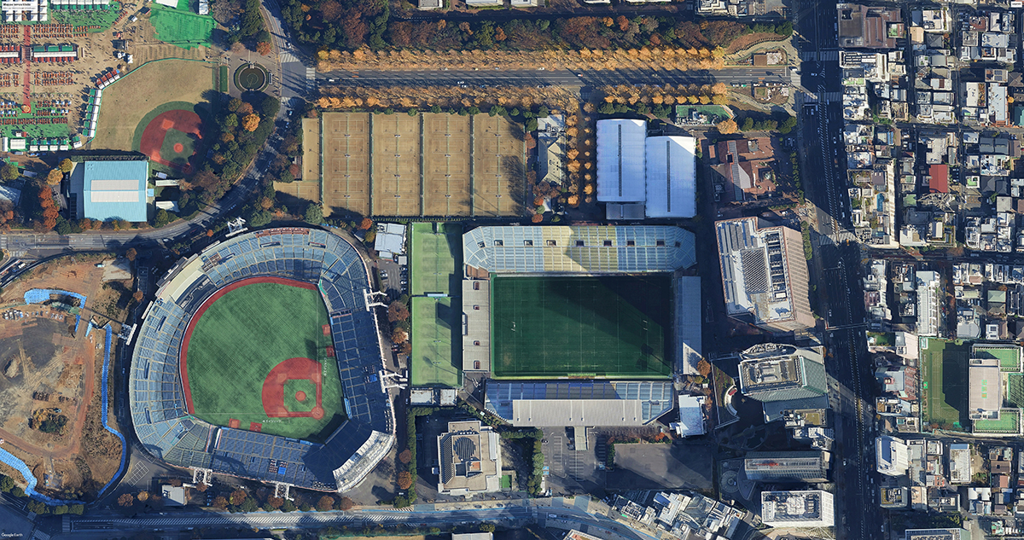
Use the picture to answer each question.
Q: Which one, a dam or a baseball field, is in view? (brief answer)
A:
baseball field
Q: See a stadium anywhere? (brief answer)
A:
Yes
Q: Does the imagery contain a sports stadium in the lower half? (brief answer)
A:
Yes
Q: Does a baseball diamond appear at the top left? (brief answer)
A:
Yes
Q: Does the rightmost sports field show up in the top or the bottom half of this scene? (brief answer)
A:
bottom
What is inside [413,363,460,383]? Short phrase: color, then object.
green tennis court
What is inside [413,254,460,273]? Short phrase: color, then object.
green tennis court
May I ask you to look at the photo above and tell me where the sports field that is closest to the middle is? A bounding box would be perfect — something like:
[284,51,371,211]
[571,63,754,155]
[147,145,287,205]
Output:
[491,273,672,380]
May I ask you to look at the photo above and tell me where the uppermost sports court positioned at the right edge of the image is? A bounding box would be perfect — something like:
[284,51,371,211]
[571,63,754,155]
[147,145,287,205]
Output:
[973,345,1024,374]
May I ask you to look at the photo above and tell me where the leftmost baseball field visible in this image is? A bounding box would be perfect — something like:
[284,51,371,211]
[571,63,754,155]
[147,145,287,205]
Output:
[90,60,218,177]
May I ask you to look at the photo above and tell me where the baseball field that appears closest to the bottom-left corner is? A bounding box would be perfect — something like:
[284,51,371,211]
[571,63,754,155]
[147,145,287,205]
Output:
[181,277,349,441]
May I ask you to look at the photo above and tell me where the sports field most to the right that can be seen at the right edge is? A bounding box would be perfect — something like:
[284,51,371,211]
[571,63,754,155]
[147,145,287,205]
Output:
[921,338,973,432]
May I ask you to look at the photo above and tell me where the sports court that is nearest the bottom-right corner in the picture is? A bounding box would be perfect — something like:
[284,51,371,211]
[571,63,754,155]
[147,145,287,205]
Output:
[973,407,1024,436]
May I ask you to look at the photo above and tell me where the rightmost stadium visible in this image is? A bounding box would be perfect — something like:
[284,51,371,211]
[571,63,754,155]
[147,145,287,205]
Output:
[462,225,702,450]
